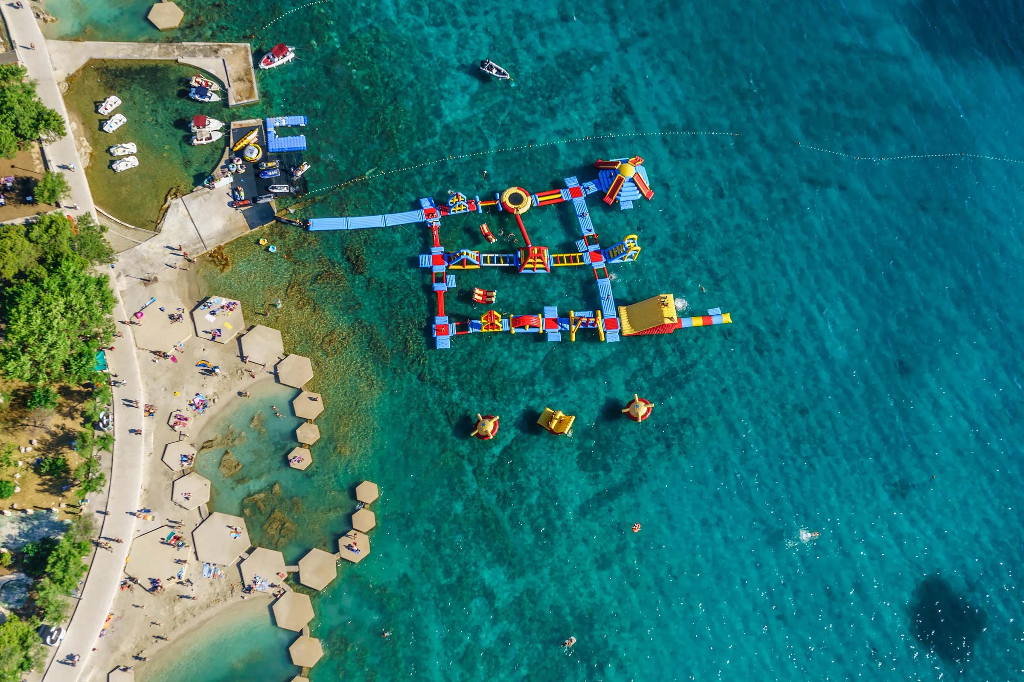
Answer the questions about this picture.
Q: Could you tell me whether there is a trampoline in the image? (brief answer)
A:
Yes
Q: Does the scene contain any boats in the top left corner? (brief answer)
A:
Yes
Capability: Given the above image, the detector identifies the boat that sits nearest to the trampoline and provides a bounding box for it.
[476,57,512,79]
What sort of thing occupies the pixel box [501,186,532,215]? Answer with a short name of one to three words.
trampoline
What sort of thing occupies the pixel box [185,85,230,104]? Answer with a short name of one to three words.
boat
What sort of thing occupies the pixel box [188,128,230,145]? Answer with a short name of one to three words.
boat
